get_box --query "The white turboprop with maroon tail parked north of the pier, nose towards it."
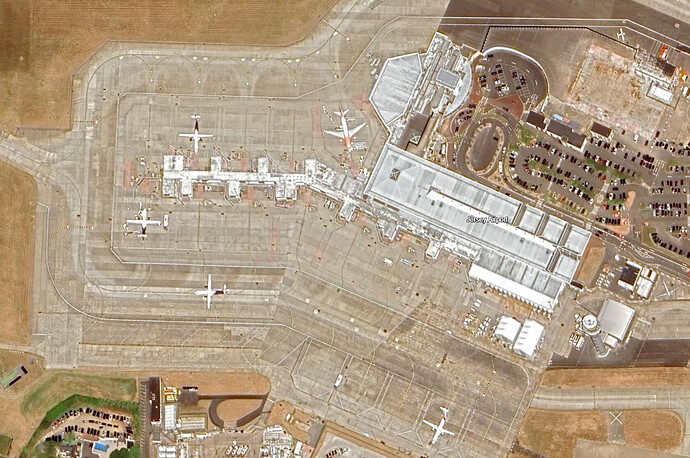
[179,114,214,153]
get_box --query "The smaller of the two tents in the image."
[495,316,522,343]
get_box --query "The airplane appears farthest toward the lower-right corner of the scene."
[422,407,453,443]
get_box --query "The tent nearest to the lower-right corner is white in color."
[513,319,544,358]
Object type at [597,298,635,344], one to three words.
hangar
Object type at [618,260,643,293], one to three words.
building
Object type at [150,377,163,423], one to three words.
shed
